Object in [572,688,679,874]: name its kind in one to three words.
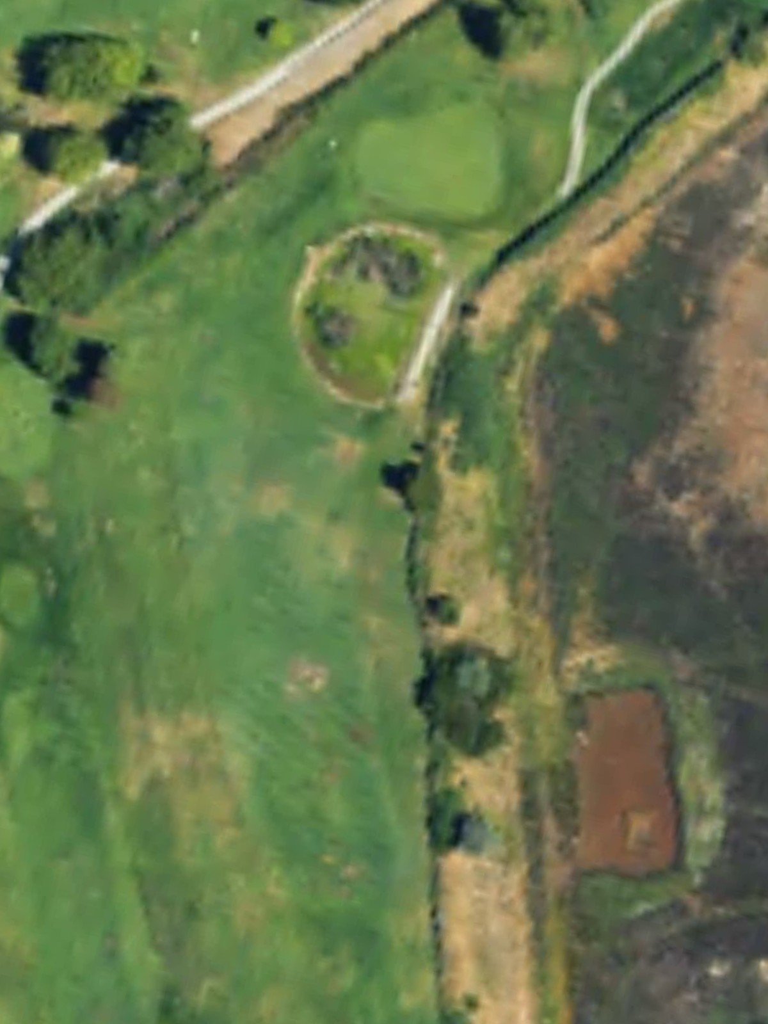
pond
